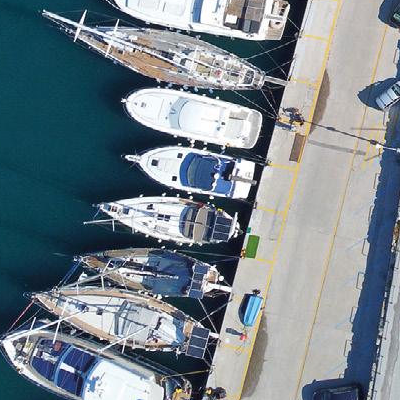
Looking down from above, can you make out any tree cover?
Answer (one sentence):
No, there's no tree cover in this view.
